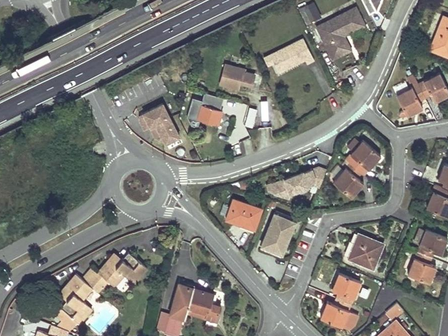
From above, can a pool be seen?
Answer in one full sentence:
Yes, a pool can be made out from above.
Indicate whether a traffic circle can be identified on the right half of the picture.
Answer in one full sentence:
No, there's no traffic circle to be seen on the right half of the picture.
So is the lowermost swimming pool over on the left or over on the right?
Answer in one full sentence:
The lowermost swimming pool sits on the left side.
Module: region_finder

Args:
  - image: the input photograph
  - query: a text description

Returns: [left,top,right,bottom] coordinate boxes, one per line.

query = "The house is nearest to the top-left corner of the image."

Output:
[139,105,181,146]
